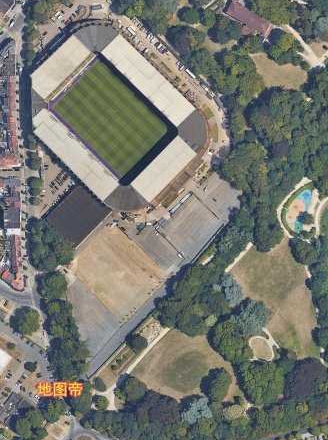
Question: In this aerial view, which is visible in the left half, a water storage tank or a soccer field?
soccer field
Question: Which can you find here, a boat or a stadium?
stadium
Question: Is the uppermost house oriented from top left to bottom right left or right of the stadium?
to the right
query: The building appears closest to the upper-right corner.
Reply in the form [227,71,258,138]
[224,0,272,37]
